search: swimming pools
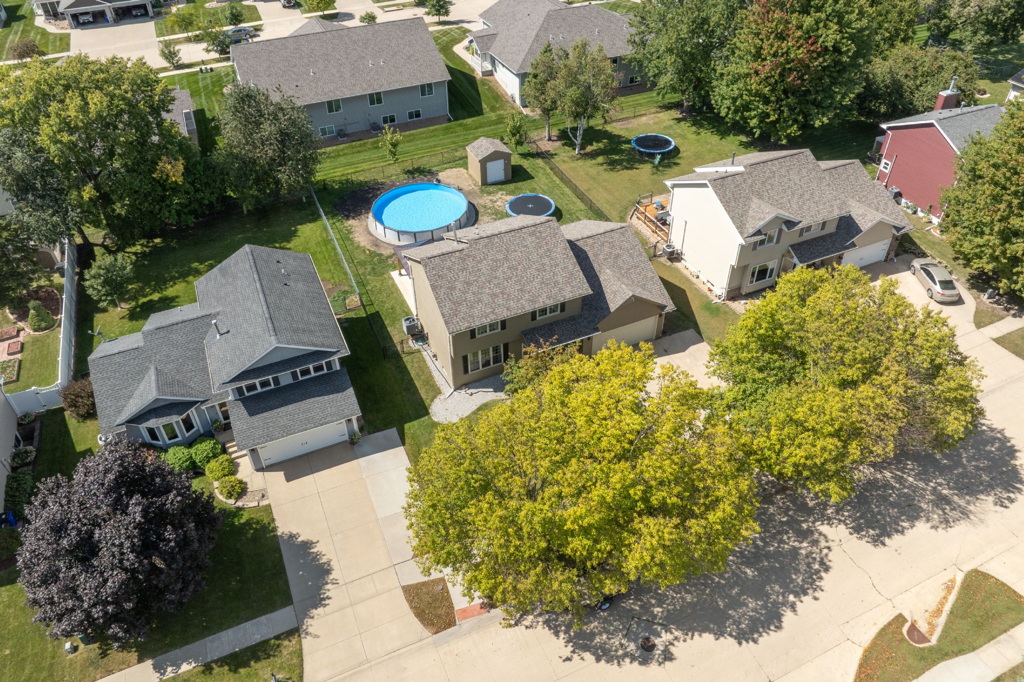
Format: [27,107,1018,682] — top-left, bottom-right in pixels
[366,183,478,250]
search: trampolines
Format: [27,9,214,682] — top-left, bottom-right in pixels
[506,193,555,218]
[631,133,675,162]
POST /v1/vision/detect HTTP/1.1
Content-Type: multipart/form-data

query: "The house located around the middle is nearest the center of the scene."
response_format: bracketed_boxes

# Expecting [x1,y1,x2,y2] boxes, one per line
[397,214,678,403]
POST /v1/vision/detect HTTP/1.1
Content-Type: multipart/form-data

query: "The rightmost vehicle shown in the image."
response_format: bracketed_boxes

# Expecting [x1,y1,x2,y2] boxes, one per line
[910,257,963,303]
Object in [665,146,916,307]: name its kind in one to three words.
house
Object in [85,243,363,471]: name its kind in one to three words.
house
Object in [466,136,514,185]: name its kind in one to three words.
shed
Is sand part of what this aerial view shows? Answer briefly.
No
